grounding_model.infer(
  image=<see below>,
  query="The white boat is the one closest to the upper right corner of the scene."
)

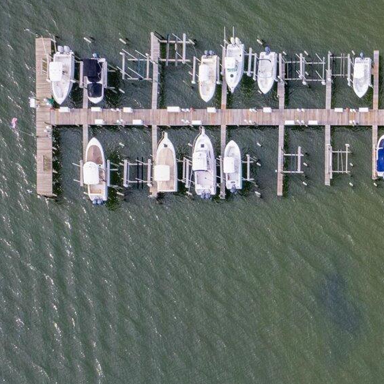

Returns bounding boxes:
[353,49,371,97]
